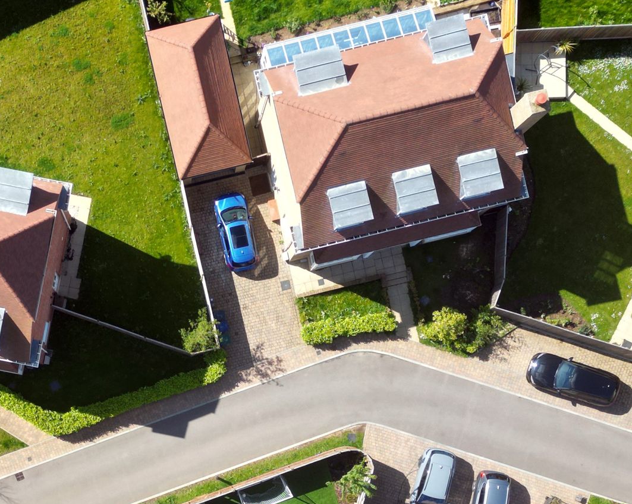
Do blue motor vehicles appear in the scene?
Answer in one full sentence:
Yes, this view includes a blue motor vehicle.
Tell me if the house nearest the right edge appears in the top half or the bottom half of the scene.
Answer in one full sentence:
Seen from above, the house nearest the right edge lies in the top half of the view.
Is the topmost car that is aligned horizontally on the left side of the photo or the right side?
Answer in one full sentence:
The topmost car that is aligned horizontally is on the right side of the image.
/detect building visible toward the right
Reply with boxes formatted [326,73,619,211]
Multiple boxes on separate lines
[251,2,551,269]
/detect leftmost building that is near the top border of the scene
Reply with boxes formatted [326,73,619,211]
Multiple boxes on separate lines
[145,13,254,185]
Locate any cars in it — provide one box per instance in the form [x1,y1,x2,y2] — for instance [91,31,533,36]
[472,469,510,504]
[213,193,254,275]
[523,355,619,404]
[409,447,453,504]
